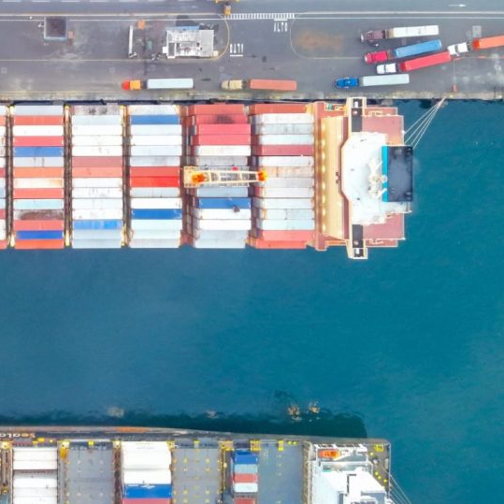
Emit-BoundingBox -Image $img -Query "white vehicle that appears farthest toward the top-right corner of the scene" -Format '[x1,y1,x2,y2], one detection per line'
[444,42,472,55]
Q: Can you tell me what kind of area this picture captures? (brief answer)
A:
port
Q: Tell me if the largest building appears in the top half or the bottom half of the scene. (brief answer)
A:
top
